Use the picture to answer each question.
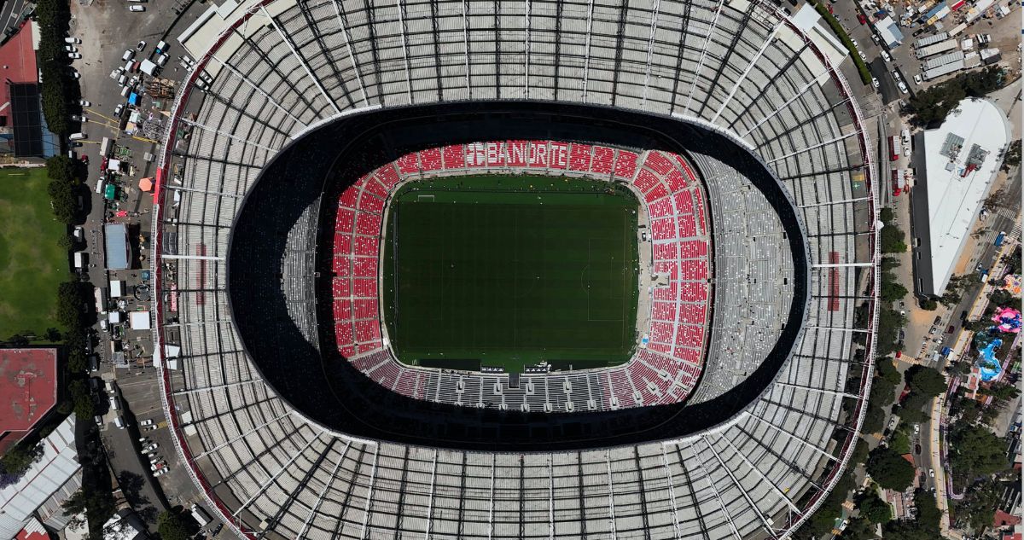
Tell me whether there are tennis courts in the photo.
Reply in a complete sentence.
No, the photo shows no tennis court.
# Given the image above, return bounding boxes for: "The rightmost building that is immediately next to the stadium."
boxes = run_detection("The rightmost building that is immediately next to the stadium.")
[913,97,1010,297]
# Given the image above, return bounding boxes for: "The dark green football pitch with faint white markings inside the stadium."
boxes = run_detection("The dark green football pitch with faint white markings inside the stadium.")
[385,174,639,372]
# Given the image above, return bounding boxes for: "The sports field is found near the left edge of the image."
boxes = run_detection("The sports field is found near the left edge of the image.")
[0,166,66,339]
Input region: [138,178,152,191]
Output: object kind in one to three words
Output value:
umbrella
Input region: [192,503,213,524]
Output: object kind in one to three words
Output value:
truck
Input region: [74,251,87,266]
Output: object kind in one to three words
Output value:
vehicle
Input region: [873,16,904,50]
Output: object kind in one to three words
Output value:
shed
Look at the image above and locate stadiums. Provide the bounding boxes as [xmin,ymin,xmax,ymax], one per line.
[149,0,882,540]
